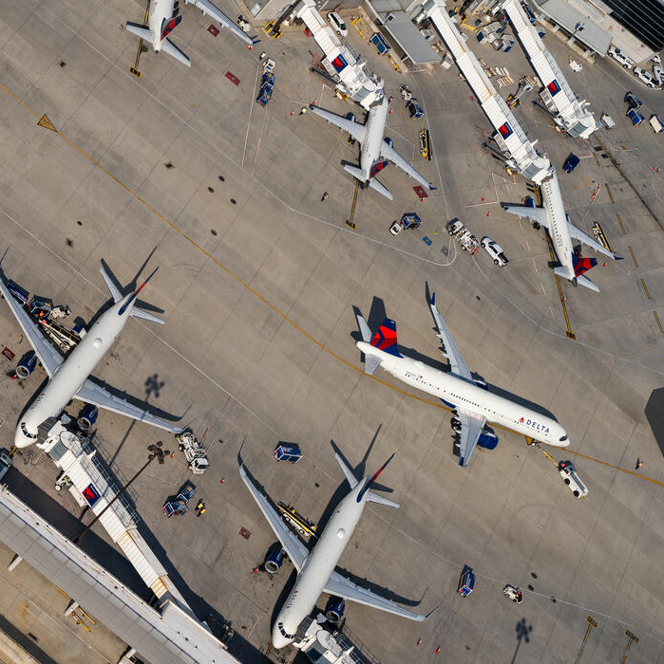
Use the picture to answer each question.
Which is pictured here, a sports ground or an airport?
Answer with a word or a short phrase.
airport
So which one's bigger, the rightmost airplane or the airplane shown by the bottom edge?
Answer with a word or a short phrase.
the airplane shown by the bottom edge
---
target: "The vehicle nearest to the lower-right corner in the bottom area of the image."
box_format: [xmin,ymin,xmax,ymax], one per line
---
[503,583,523,603]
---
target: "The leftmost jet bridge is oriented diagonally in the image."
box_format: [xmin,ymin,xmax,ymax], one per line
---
[38,419,217,630]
